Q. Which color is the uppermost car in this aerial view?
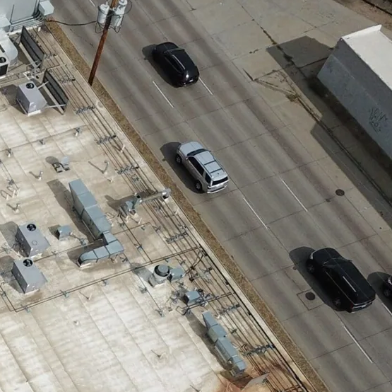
black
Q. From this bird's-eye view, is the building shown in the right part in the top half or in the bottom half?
top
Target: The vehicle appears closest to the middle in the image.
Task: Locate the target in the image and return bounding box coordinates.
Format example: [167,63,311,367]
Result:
[177,141,233,193]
